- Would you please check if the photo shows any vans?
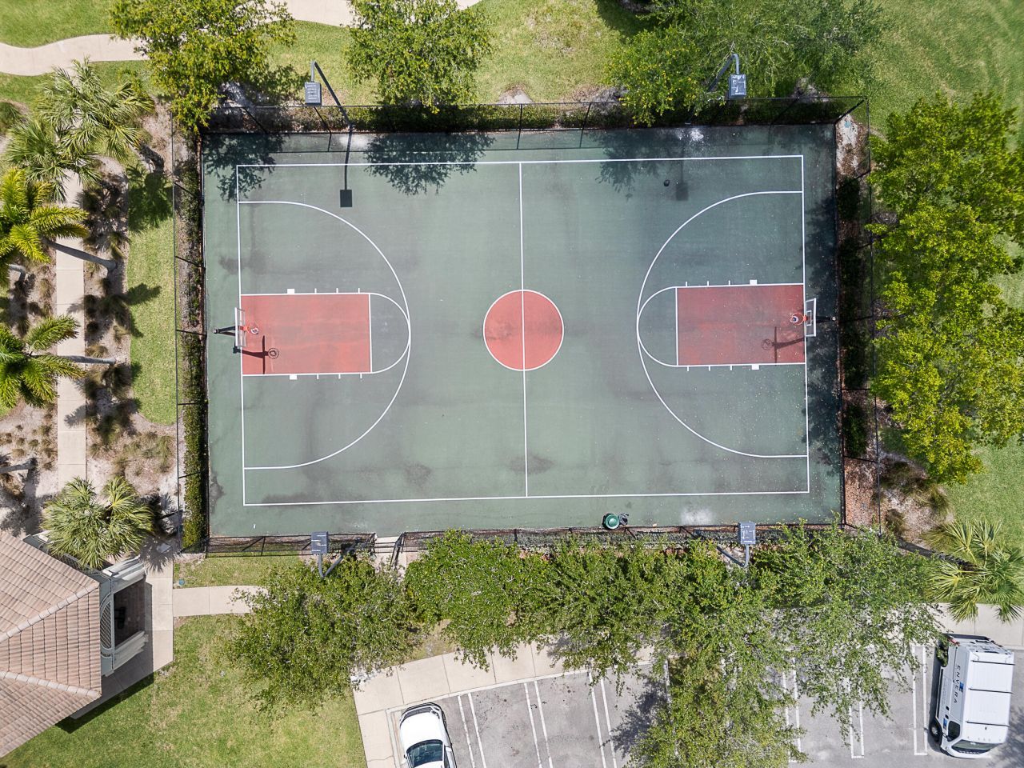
Yes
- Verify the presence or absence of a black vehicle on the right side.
No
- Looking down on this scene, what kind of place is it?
sports ground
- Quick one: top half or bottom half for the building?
bottom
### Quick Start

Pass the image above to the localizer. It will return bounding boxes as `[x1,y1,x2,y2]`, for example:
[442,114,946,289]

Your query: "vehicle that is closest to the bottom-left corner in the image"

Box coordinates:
[400,702,454,768]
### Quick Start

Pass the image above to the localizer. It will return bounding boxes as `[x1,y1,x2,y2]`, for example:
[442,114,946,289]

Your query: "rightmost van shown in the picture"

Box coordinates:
[930,632,1016,761]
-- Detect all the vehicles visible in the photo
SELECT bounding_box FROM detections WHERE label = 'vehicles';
[400,702,454,768]
[930,632,1016,761]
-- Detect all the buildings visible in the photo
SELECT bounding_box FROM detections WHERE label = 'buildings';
[0,525,145,758]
